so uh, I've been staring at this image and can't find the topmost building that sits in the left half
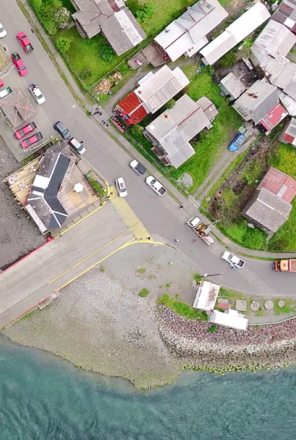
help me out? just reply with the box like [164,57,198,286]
[66,0,147,58]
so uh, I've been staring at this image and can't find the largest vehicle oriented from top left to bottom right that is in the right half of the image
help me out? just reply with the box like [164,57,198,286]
[184,219,213,245]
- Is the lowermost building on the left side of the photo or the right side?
right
